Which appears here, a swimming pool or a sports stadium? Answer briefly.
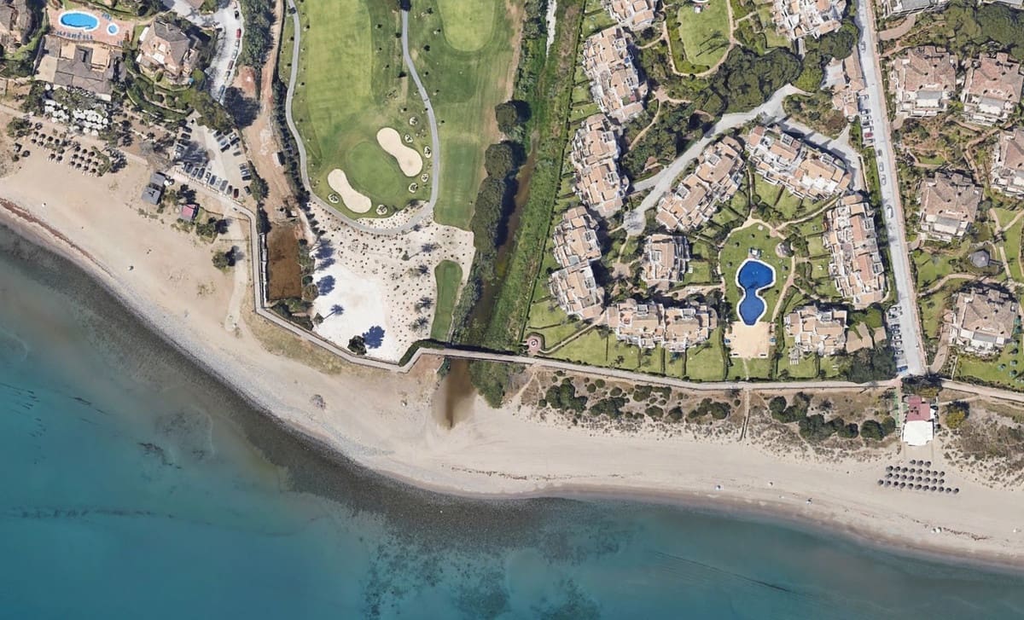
swimming pool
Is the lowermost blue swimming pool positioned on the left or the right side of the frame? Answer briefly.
right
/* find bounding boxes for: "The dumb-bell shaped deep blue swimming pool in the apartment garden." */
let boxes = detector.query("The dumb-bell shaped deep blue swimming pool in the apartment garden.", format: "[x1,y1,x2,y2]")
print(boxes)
[737,259,775,327]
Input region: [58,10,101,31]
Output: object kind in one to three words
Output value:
swimming pool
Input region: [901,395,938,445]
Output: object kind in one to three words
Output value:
building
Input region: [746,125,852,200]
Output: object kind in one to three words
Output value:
building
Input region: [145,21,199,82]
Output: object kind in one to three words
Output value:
house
